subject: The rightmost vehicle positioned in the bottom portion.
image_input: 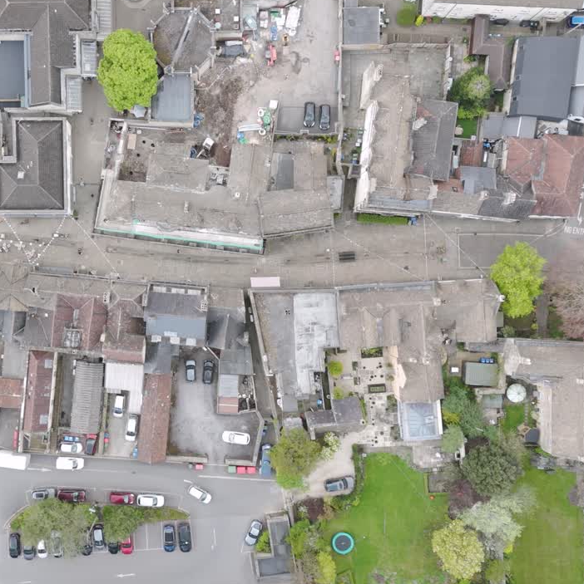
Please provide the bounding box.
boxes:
[324,476,353,493]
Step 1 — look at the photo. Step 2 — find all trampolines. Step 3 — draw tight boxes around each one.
[331,532,353,555]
